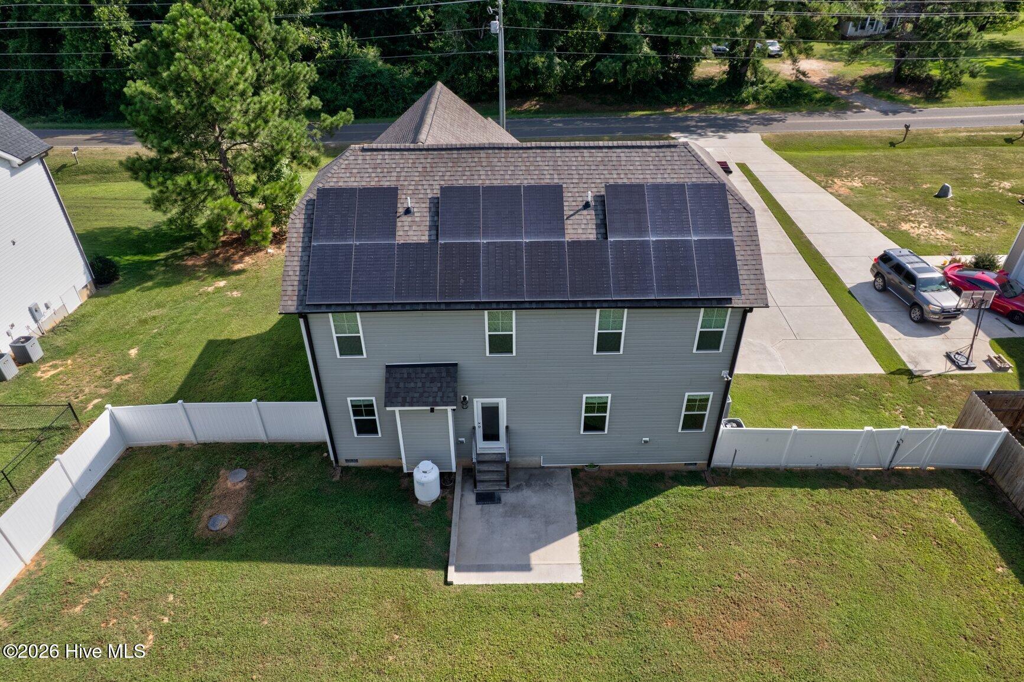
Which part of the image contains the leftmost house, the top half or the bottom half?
top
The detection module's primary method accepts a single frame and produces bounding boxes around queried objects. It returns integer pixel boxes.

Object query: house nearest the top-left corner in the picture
[0,117,97,353]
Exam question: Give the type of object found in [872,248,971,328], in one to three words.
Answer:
car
